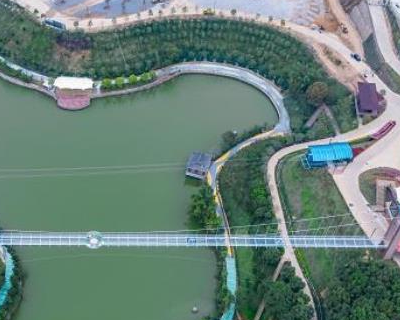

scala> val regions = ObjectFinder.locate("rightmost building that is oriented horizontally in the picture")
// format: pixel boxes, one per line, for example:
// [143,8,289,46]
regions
[306,143,360,172]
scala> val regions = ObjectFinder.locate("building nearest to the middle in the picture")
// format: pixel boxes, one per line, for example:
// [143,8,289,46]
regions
[185,152,212,178]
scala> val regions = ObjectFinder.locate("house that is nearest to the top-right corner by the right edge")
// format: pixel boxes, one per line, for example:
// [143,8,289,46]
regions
[355,79,381,123]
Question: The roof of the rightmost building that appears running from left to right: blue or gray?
blue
